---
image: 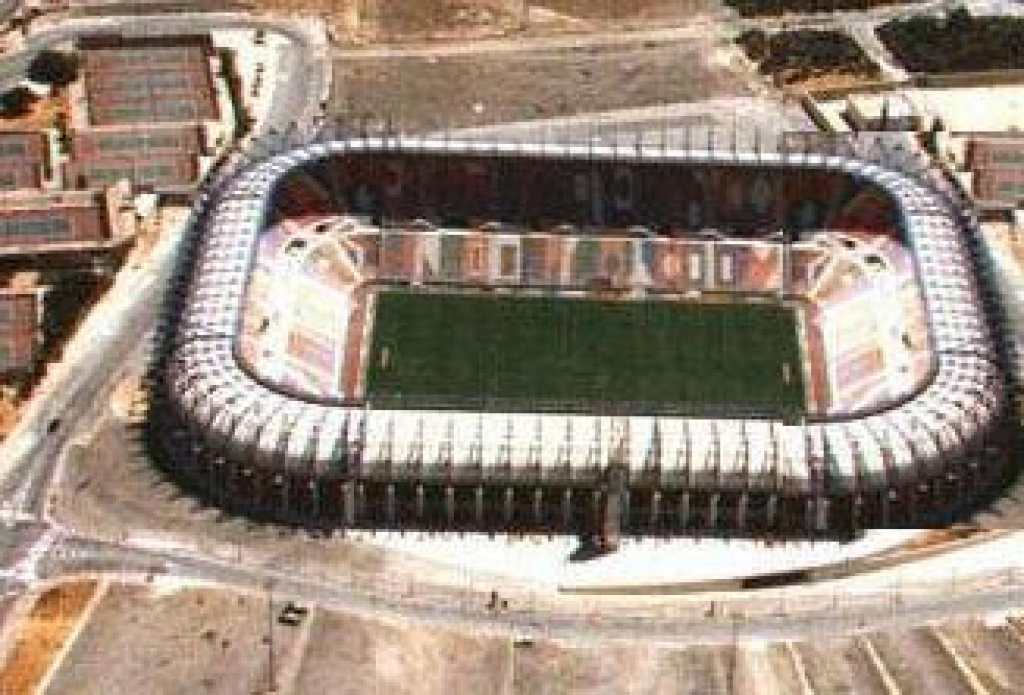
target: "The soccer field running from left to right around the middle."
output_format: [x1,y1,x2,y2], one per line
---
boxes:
[340,284,831,422]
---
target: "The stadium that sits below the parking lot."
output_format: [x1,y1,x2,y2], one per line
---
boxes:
[135,114,1024,560]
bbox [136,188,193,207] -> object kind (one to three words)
building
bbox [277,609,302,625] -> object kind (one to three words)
vehicle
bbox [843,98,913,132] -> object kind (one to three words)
building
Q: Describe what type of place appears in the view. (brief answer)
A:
sports ground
